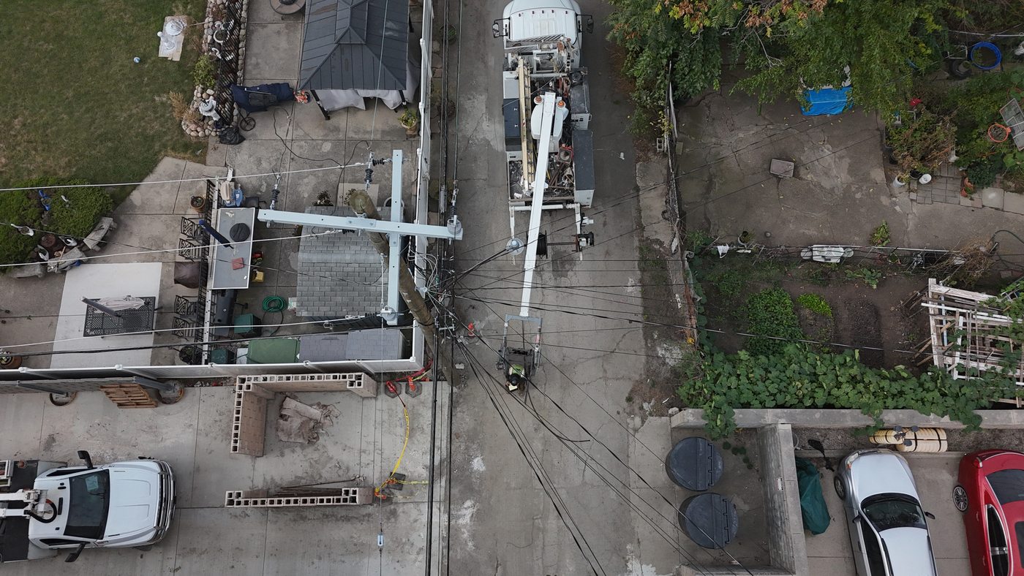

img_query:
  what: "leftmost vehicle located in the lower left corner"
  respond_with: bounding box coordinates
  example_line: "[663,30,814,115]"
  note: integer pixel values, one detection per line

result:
[0,447,180,573]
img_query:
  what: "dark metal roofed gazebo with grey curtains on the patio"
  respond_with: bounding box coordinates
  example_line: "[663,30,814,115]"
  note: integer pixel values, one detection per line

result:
[296,0,422,132]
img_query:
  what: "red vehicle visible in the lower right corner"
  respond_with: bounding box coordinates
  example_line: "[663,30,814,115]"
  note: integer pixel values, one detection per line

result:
[954,448,1024,576]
